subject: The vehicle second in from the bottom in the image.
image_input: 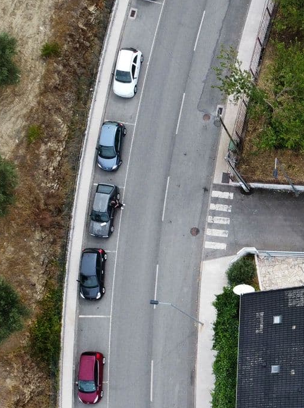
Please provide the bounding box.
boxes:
[77,248,108,301]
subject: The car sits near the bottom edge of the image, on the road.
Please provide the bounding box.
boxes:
[75,352,106,403]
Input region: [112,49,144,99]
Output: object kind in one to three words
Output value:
car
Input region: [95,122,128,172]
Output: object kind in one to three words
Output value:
car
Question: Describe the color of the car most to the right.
white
